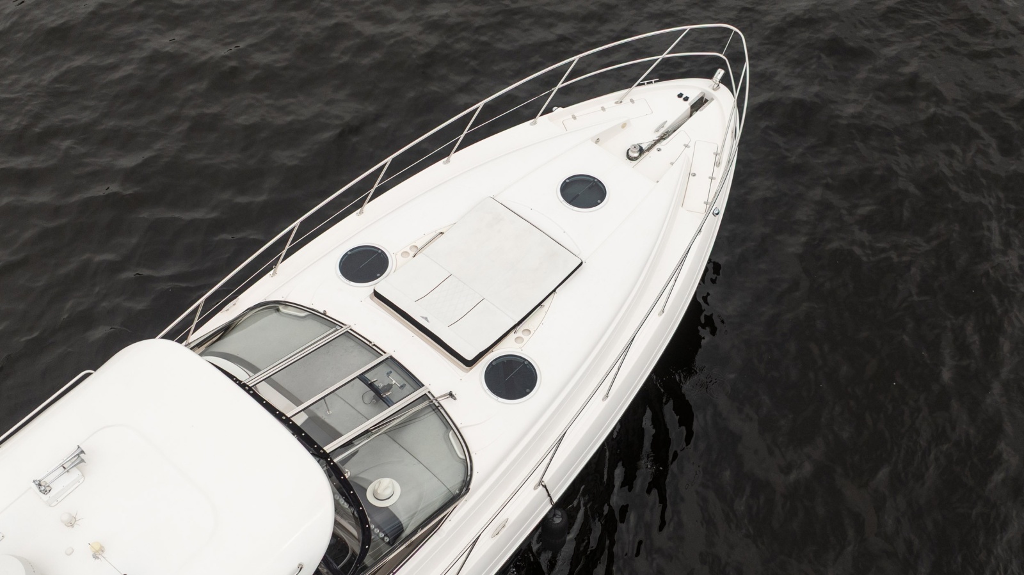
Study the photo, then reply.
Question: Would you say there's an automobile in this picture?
No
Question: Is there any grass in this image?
No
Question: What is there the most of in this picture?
water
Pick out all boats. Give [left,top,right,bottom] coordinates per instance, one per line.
[0,23,749,575]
